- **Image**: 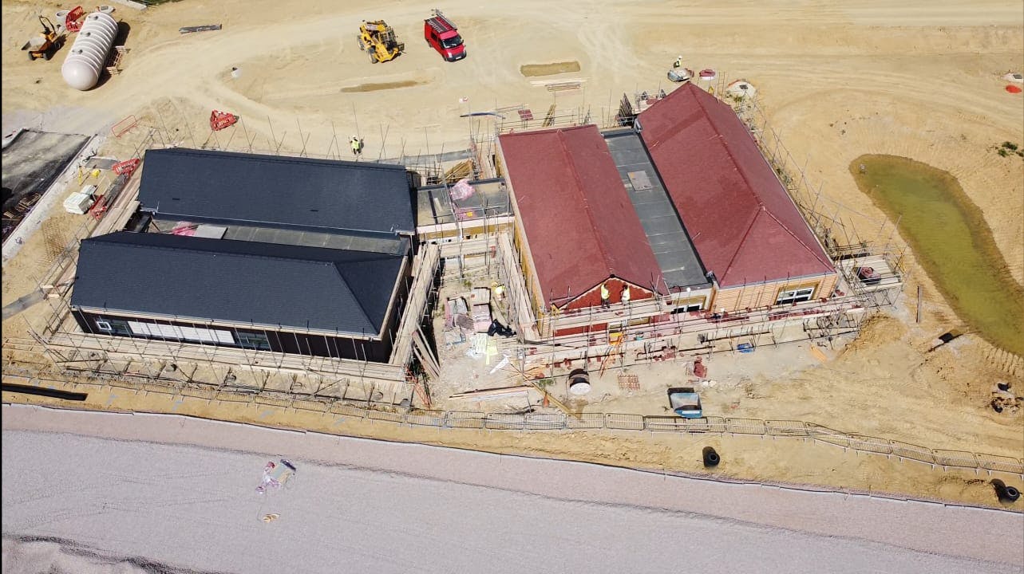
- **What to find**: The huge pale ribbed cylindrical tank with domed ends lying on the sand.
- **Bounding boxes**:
[61,12,121,88]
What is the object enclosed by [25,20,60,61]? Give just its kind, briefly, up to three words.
truck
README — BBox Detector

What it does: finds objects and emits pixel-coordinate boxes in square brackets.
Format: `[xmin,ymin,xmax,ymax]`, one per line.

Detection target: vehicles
[422,13,467,62]
[357,21,398,69]
[25,20,60,61]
